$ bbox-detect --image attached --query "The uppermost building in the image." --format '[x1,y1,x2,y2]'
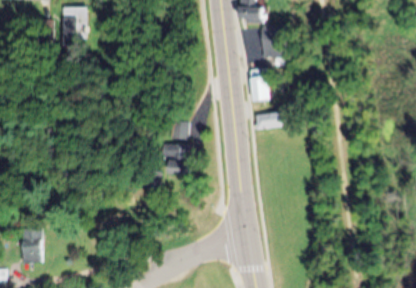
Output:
[238,0,268,24]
